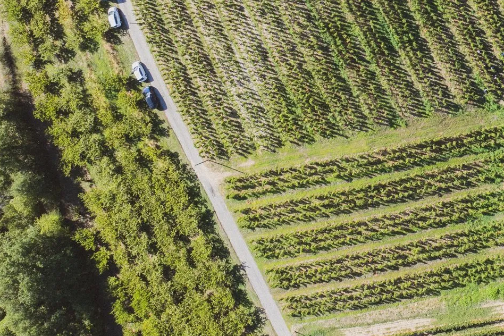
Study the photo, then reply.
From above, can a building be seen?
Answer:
No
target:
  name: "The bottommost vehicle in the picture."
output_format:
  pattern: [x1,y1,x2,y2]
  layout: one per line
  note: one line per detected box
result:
[142,85,159,110]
